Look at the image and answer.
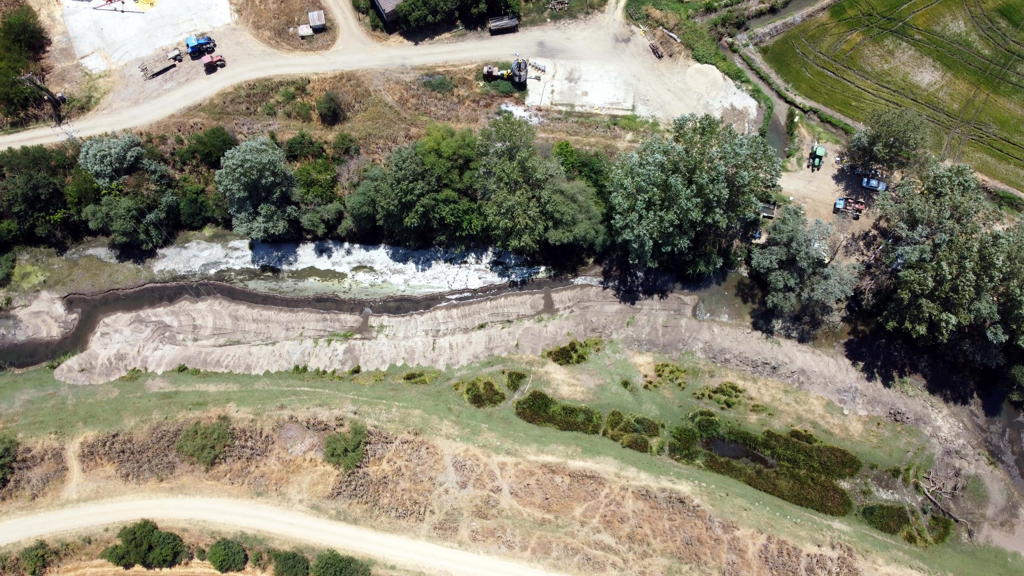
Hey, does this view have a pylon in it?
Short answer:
Yes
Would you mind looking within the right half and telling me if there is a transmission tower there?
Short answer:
No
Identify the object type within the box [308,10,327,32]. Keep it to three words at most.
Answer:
shed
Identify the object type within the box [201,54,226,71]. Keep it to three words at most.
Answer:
work vehicle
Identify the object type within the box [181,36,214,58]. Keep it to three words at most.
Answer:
work vehicle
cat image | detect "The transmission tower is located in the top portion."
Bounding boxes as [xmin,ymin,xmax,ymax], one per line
[58,122,86,148]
